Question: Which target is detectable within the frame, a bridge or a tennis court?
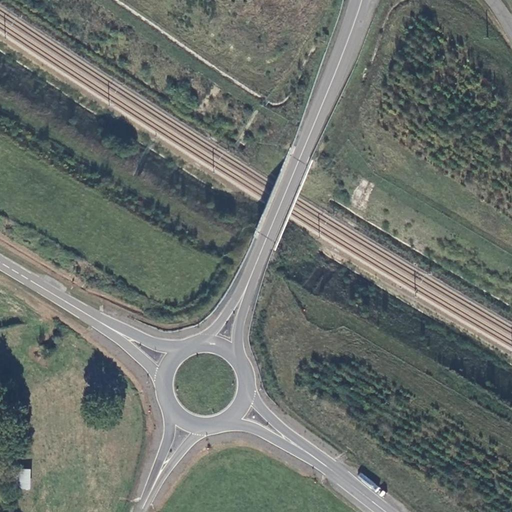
bridge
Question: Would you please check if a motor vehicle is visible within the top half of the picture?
No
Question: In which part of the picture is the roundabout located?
bottom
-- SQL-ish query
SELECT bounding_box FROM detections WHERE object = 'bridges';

[252,148,310,252]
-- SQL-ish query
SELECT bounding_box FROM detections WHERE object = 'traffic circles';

[90,298,322,475]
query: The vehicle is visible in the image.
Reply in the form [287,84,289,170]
[358,472,386,498]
